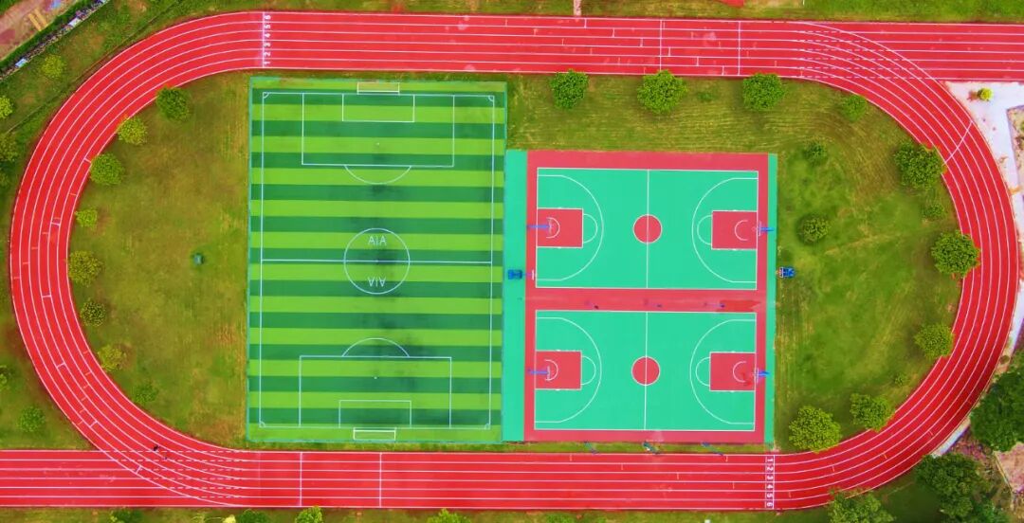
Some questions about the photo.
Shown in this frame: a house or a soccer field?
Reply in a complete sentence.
The image shows a soccer field.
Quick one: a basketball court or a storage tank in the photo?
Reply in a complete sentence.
Of the two, only a basketball court appears.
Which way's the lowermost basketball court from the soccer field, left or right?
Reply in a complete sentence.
It is on the right side of the soccer field that the lowermost basketball court is positioned.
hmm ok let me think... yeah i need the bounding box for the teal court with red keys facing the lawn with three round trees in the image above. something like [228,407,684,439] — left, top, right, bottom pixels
[536,168,758,290]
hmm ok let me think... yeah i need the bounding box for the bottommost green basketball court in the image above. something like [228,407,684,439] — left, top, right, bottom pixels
[534,310,757,431]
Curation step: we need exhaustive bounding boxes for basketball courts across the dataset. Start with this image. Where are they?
[536,168,758,290]
[534,310,757,431]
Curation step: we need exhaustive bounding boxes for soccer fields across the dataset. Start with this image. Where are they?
[245,76,508,446]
